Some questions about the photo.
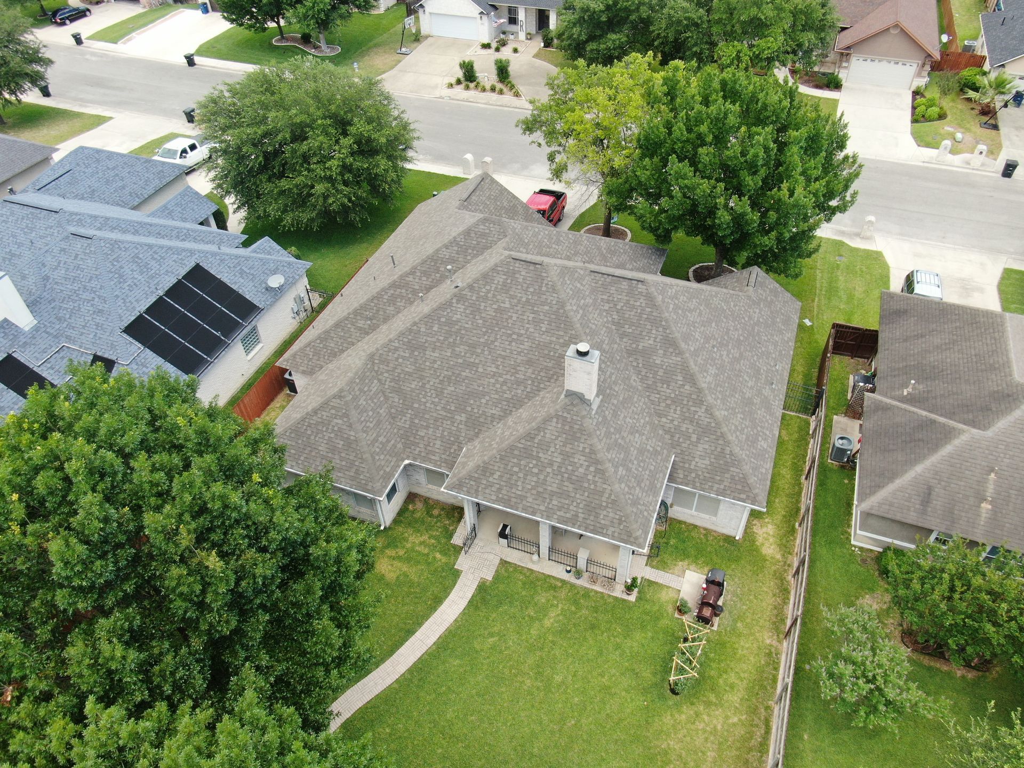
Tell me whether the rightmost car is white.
Yes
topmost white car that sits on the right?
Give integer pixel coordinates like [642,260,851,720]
[897,266,944,302]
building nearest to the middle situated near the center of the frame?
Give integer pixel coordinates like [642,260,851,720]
[244,168,801,594]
